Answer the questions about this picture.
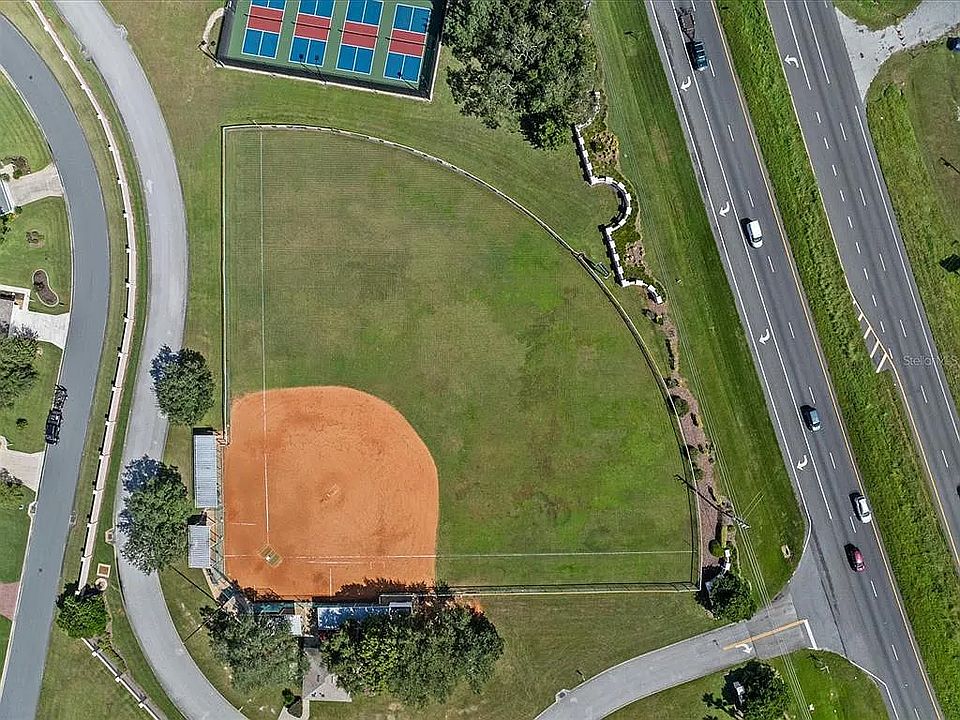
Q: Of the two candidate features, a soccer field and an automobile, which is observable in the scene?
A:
automobile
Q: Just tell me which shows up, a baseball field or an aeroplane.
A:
baseball field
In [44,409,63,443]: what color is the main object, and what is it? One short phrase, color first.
black vehicle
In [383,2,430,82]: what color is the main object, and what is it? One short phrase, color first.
blue sports court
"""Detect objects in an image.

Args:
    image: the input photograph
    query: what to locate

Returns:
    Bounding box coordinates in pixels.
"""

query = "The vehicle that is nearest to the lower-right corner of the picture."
[848,546,864,572]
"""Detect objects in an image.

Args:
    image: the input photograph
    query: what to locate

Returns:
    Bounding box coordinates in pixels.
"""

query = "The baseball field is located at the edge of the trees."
[224,128,698,599]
